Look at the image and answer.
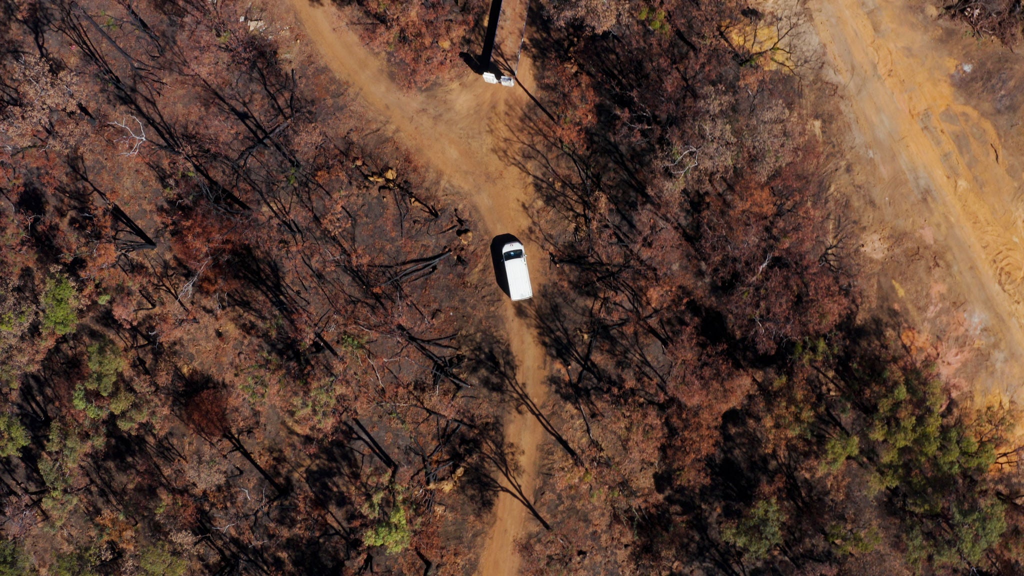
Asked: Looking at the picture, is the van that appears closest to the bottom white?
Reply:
Yes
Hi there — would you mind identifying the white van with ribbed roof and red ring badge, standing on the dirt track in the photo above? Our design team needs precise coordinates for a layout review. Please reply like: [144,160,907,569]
[500,241,533,302]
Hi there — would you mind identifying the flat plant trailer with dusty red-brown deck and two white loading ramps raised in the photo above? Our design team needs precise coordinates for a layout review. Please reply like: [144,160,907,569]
[482,0,531,86]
